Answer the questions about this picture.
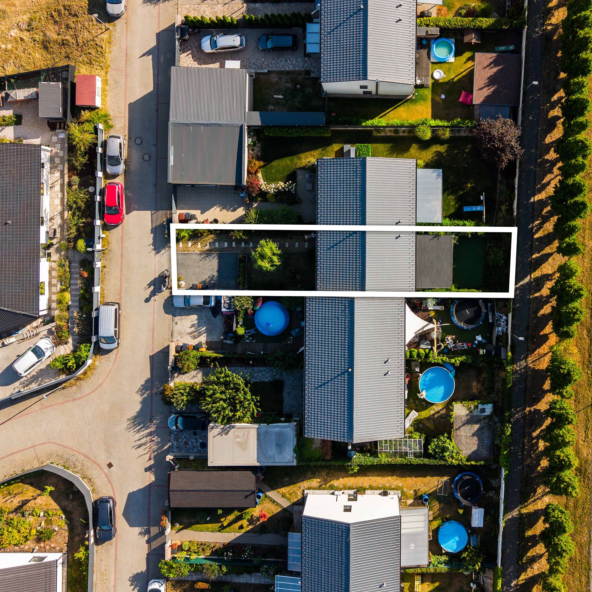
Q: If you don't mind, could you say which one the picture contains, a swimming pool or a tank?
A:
swimming pool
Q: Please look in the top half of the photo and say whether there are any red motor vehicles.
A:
Yes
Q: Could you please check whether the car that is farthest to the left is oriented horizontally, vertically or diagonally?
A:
diagonally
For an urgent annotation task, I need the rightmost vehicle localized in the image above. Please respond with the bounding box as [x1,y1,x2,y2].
[259,32,299,53]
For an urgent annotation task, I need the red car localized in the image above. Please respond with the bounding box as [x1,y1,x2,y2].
[102,182,126,225]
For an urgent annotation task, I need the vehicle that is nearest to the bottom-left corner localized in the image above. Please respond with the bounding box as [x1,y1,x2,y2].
[95,495,119,546]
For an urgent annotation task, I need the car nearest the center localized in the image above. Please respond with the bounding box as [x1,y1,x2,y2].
[173,288,216,308]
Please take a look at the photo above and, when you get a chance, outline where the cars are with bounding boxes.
[104,134,127,176]
[259,32,299,53]
[173,288,216,308]
[202,32,247,55]
[146,577,167,592]
[95,495,119,546]
[168,412,209,433]
[102,182,126,225]
[13,337,57,377]
[104,0,128,18]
